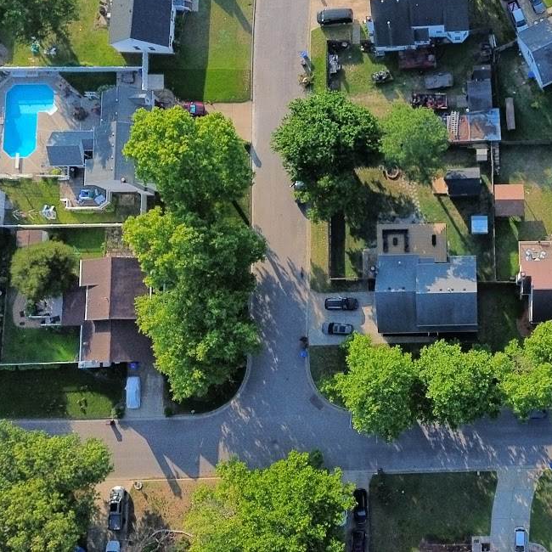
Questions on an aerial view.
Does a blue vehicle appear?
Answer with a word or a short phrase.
Yes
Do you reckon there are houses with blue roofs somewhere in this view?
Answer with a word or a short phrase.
Yes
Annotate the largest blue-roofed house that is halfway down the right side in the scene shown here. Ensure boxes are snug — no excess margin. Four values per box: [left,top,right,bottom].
[374,223,478,334]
